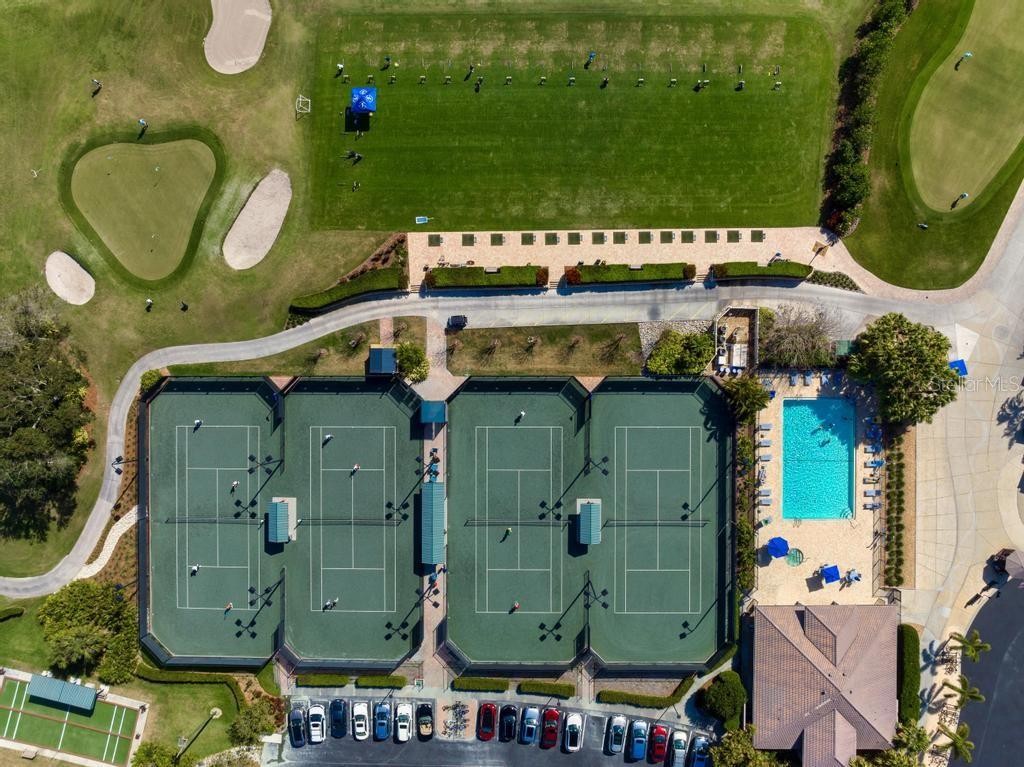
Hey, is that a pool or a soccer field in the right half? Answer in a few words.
pool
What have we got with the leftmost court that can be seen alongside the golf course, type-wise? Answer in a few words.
tennis court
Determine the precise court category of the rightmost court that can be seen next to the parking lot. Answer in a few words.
tennis court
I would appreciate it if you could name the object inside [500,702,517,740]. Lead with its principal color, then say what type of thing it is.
black car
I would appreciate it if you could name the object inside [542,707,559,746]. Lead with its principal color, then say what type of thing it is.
red car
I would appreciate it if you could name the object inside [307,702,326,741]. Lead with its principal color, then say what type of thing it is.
white car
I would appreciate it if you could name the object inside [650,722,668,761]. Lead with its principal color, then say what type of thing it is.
red car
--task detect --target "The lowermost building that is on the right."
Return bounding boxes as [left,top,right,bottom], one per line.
[753,605,896,767]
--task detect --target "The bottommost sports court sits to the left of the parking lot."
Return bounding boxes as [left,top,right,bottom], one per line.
[0,667,149,767]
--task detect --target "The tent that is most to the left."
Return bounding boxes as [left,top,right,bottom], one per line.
[352,88,379,118]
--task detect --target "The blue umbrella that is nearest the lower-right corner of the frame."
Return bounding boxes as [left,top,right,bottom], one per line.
[819,563,841,584]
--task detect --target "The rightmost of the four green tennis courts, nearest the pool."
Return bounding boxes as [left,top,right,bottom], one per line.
[588,378,728,663]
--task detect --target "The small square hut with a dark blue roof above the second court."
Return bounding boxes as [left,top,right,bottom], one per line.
[370,347,397,373]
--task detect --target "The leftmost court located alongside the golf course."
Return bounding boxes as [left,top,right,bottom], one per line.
[149,378,283,657]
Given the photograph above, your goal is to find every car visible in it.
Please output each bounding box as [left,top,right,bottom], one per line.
[691,731,710,767]
[288,707,308,747]
[500,702,517,740]
[329,697,348,736]
[565,711,583,752]
[396,701,413,741]
[630,718,649,758]
[522,704,540,743]
[416,703,433,739]
[669,727,689,767]
[609,711,627,751]
[650,722,668,761]
[479,700,496,739]
[307,702,326,741]
[374,700,391,739]
[542,707,559,746]
[352,700,369,739]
